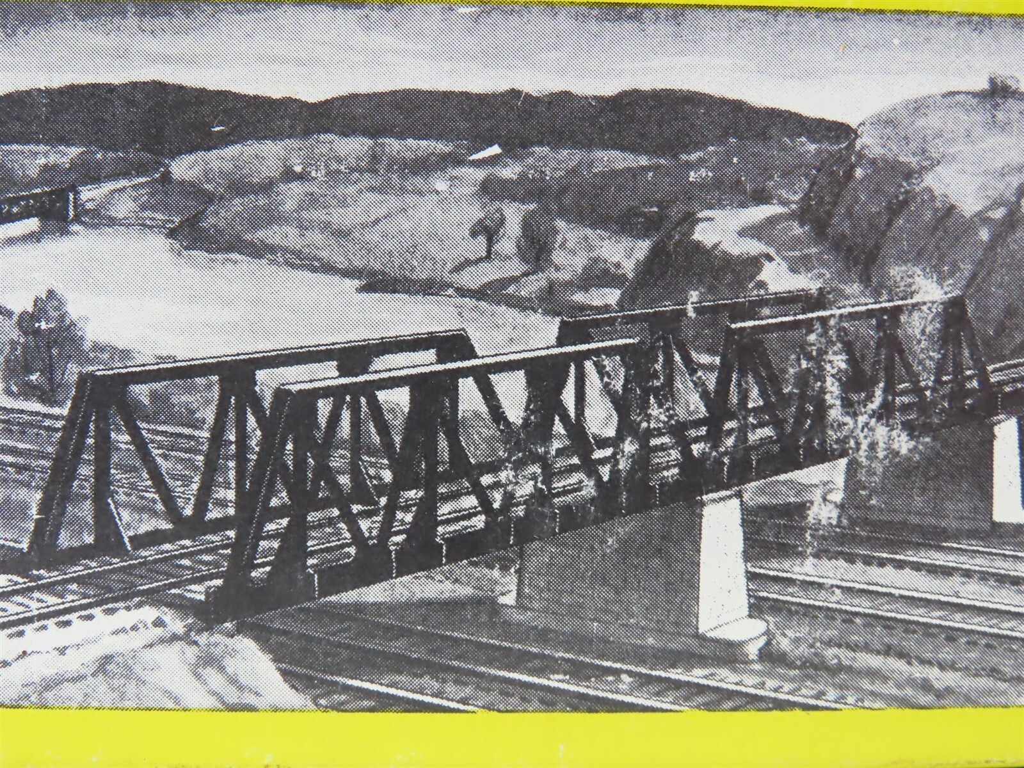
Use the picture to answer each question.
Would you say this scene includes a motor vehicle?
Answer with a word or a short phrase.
No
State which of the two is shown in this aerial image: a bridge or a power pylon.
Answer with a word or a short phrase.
bridge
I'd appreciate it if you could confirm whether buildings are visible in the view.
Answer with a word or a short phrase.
No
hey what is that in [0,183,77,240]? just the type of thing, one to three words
bridge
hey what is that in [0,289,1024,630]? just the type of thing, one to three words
bridge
